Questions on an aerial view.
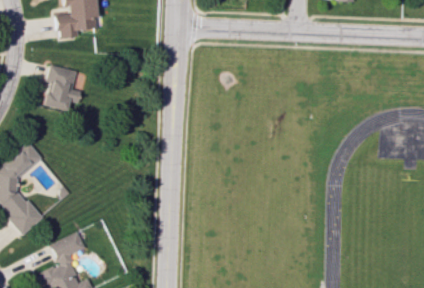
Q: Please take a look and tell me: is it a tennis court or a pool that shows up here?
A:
pool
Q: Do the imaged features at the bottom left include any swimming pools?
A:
Yes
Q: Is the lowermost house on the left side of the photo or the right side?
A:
left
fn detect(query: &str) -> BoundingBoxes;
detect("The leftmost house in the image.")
[0,142,46,236]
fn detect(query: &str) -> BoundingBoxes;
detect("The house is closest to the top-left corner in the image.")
[55,0,98,38]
